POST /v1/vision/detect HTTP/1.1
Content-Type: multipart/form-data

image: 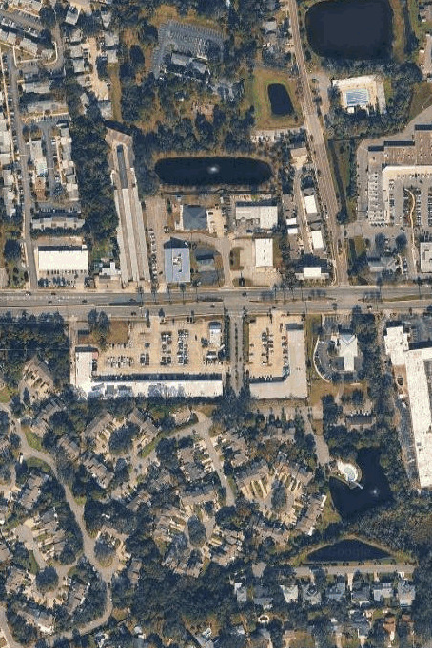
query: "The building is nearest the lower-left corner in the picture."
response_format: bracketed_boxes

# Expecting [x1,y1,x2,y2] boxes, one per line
[16,609,57,634]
